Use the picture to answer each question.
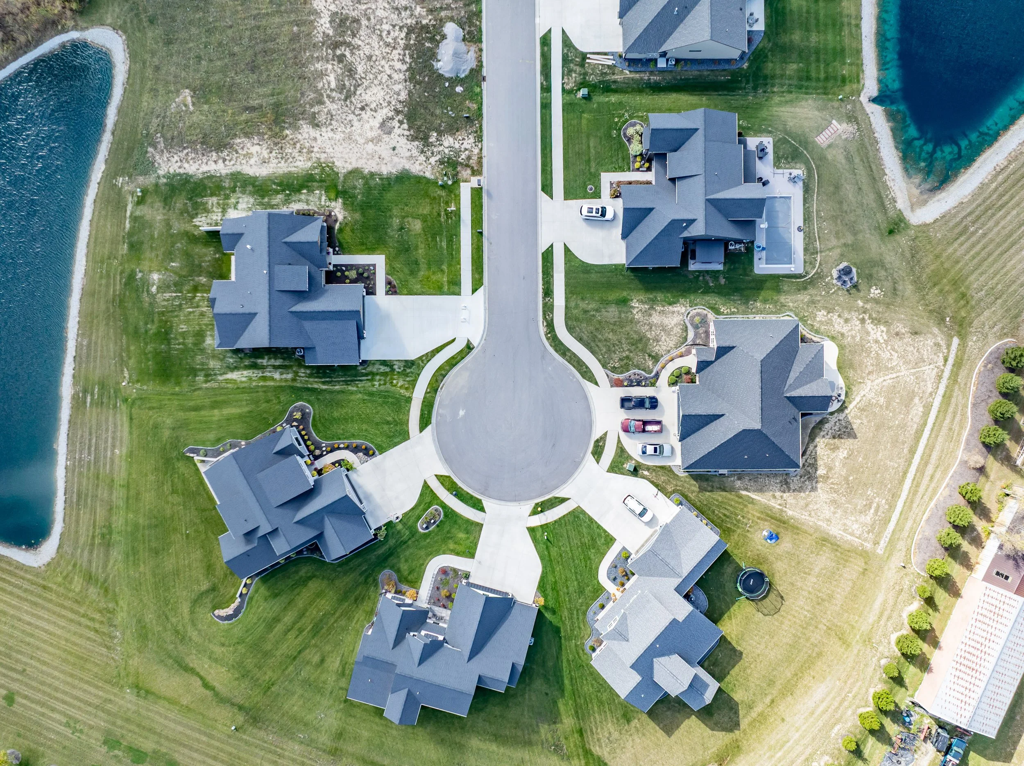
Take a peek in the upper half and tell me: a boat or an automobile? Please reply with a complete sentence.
You can see an automobile in the upper half.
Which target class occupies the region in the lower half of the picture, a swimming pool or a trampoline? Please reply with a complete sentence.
There is a trampoline in the lower half of the picture.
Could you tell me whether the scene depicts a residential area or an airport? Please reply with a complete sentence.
It's a residential area.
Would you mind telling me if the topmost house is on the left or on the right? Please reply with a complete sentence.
The topmost house is on the right side of the image.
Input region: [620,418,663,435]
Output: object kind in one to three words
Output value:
vehicle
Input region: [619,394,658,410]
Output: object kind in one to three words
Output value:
vehicle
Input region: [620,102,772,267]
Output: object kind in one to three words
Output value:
house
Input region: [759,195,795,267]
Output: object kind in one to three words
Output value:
swimming pool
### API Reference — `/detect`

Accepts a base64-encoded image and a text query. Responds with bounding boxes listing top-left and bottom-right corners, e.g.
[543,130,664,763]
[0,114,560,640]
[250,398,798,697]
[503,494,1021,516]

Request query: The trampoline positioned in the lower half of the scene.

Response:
[731,564,774,603]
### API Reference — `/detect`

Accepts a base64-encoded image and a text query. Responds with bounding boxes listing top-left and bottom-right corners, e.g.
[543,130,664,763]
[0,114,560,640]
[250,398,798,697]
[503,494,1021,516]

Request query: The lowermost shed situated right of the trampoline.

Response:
[915,579,1024,739]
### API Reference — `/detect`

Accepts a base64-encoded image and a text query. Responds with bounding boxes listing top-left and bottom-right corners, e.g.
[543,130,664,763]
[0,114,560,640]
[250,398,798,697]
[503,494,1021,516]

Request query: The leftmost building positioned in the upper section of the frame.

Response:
[207,210,370,365]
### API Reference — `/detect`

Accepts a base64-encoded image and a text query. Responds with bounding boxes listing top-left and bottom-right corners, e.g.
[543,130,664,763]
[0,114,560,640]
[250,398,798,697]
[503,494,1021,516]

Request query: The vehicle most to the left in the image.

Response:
[579,205,614,221]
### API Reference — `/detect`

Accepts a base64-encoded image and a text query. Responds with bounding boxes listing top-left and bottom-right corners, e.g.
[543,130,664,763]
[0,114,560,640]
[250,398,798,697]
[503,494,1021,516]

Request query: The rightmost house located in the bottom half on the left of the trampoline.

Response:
[591,502,728,713]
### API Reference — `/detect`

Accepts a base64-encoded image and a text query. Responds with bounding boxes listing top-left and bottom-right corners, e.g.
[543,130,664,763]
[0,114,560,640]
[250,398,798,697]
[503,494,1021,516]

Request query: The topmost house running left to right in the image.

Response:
[618,0,748,60]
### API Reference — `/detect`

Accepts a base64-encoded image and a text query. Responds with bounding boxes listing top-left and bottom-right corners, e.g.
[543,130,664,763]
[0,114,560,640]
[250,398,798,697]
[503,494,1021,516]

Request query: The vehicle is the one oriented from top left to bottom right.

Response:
[623,491,652,525]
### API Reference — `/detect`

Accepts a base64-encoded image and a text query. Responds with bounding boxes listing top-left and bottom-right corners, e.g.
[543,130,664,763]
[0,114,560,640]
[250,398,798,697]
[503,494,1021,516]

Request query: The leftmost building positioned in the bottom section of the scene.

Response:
[203,426,379,581]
